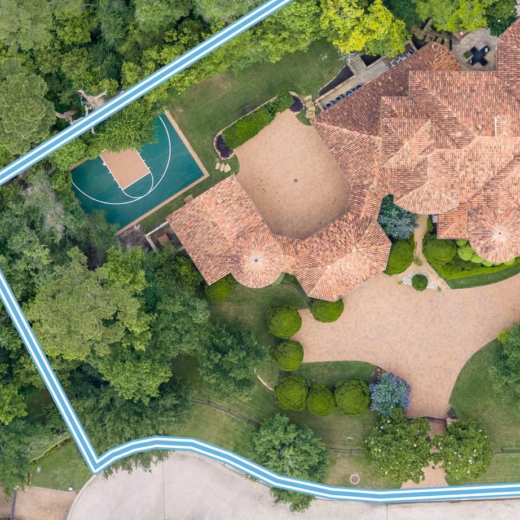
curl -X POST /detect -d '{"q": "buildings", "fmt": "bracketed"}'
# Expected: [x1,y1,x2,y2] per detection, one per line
[165,173,287,289]
[311,16,520,264]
